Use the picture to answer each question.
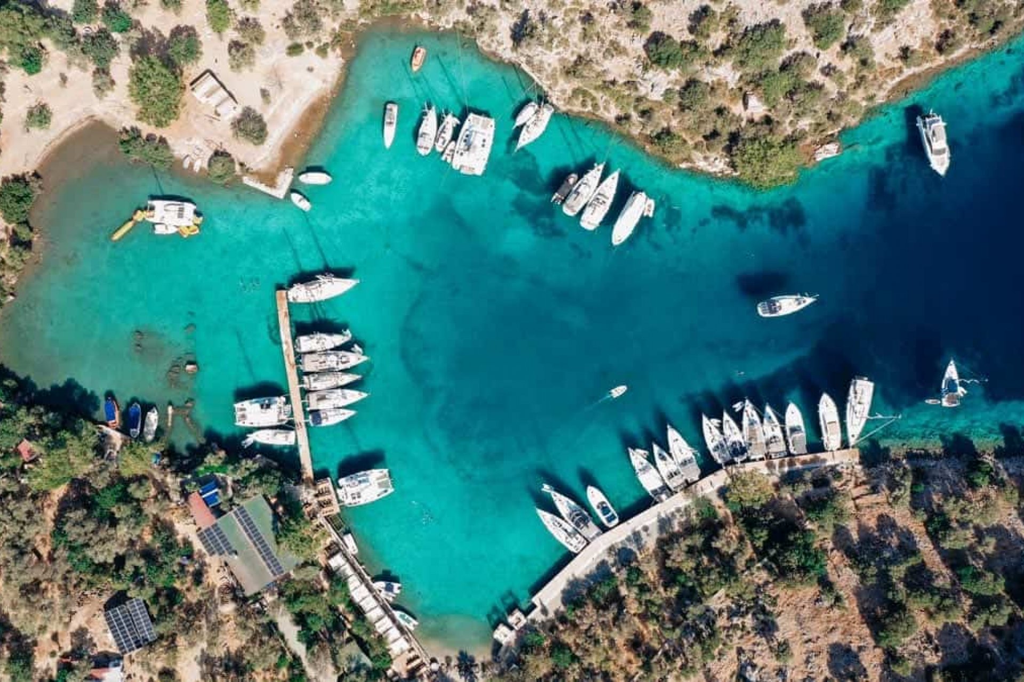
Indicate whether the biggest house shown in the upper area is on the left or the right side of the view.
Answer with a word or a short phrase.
left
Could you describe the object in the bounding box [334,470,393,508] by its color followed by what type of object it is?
white boat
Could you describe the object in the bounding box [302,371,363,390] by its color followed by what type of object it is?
white boat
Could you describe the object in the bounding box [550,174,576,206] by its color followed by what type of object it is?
gray boat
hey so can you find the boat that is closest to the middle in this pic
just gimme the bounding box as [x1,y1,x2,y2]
[609,386,627,399]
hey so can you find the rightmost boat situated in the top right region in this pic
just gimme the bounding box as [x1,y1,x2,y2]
[913,111,949,174]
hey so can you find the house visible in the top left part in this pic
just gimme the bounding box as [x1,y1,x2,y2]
[190,70,241,117]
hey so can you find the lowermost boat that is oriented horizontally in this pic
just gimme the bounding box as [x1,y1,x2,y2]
[375,580,402,593]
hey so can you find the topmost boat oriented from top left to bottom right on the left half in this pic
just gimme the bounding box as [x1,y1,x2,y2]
[292,193,312,212]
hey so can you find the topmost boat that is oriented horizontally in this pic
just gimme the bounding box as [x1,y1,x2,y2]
[299,171,332,184]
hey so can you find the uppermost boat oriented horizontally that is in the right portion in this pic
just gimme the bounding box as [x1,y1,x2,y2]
[752,293,822,318]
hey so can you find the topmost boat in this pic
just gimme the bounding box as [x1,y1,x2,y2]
[411,45,427,71]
